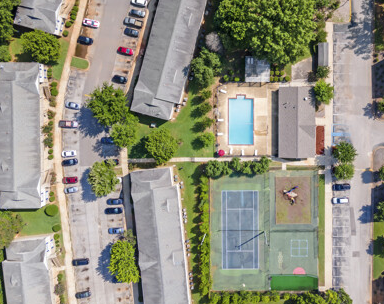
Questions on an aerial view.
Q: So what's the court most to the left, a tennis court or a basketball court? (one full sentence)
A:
What you see as the court most to the left is a tennis court.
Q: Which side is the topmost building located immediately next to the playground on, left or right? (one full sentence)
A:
The topmost building located immediately next to the playground appears in the right half of the scene.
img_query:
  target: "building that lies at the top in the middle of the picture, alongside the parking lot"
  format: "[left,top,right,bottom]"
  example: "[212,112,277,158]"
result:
[132,0,209,120]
